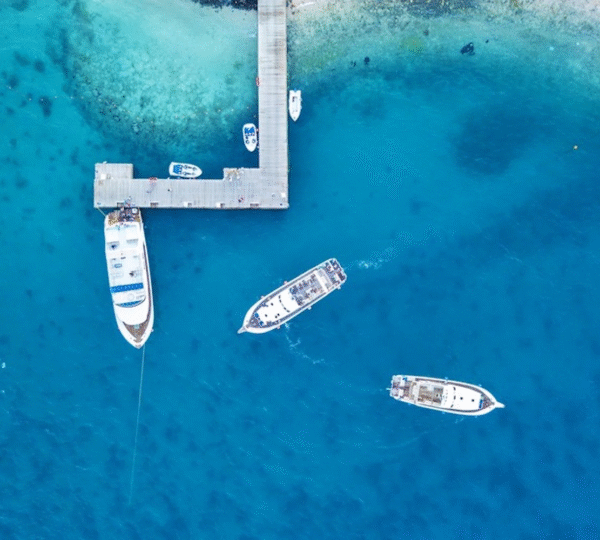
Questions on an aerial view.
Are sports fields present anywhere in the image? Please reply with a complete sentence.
No, I can see no sports field in this picture.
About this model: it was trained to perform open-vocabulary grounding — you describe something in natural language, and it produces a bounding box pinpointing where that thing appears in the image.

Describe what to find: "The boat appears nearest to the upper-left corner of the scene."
[168,162,203,179]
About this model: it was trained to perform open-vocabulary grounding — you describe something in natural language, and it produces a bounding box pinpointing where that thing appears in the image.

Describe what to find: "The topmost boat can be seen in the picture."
[289,88,302,122]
